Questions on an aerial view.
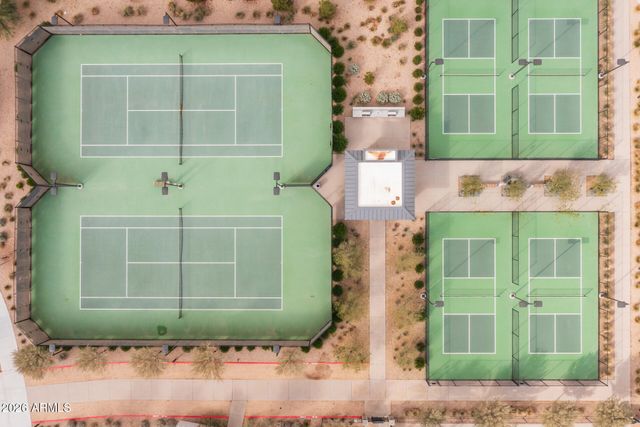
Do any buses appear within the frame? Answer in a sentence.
No, the picture doesn't show any bus.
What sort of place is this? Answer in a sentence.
It's a sports ground.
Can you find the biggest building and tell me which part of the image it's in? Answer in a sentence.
The biggest building is located in the center region of the scene.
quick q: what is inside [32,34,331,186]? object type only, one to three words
tennis court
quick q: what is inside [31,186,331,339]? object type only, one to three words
tennis court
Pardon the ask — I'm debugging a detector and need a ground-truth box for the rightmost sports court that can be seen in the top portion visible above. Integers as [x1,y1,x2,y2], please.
[513,0,599,159]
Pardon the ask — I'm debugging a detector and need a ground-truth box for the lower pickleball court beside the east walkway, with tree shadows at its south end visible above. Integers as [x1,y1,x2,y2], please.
[513,212,599,380]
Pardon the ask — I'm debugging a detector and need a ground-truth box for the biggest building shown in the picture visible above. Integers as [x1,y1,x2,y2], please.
[344,150,416,221]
